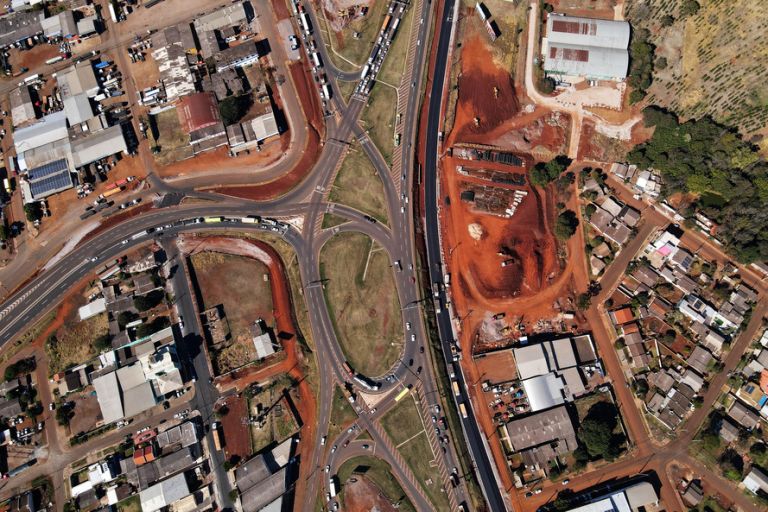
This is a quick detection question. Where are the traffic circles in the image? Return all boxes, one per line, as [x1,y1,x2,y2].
[319,231,405,376]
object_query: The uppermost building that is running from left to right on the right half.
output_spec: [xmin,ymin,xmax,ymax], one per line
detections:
[546,14,630,49]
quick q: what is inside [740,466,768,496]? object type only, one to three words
house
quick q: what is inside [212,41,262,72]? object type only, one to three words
building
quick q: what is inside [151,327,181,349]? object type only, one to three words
building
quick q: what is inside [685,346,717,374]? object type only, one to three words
house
